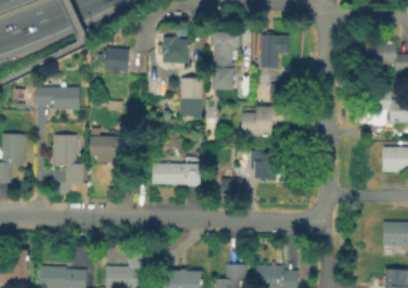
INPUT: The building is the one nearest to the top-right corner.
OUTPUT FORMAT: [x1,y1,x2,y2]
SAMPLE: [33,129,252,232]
[378,42,408,74]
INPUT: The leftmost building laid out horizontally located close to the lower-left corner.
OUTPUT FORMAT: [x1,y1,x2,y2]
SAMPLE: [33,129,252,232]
[40,266,86,288]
